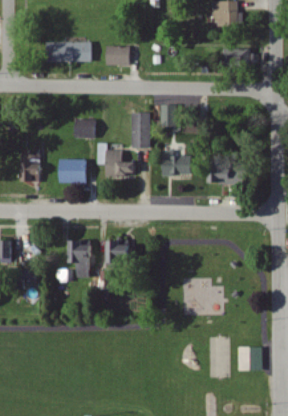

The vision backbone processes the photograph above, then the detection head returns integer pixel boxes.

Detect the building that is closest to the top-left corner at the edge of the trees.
[47,41,92,62]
